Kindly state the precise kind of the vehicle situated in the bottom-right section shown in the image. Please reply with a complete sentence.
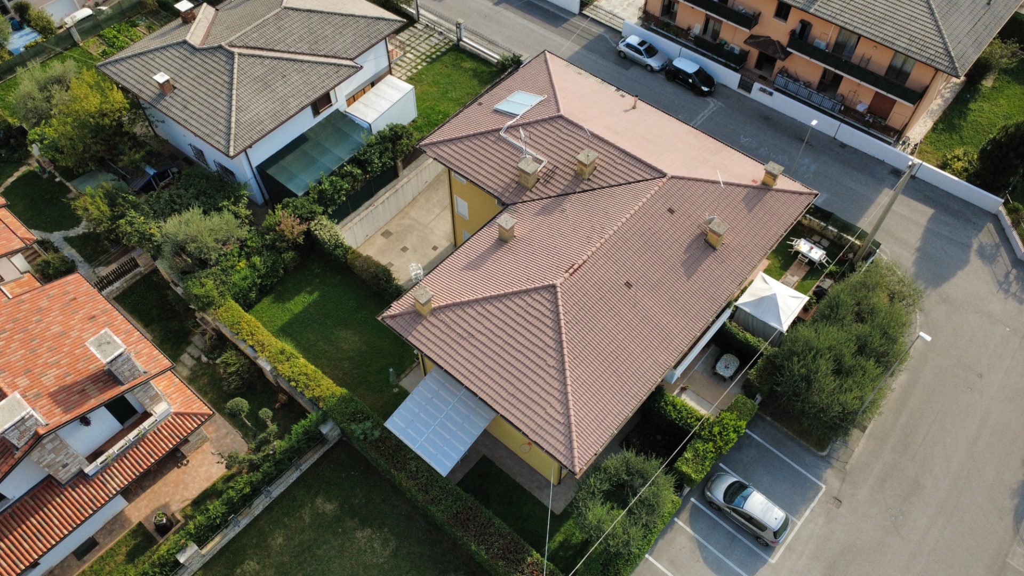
In the photo, the vehicle situated in the bottom-right section shows up as a car.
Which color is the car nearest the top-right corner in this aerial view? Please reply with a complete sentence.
The car nearest the top-right corner is black.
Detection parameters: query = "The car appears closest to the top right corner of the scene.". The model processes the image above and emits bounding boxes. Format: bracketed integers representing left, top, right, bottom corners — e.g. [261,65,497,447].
[665,57,718,96]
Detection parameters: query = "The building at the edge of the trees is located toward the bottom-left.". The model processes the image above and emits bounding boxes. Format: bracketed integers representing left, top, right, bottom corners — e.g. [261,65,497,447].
[0,266,218,576]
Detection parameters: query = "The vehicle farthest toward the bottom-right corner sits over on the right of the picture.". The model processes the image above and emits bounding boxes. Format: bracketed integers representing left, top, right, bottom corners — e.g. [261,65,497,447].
[702,471,796,550]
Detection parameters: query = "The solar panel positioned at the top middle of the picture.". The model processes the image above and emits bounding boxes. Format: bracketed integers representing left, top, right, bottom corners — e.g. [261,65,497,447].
[495,89,548,171]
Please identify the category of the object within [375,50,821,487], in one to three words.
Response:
house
